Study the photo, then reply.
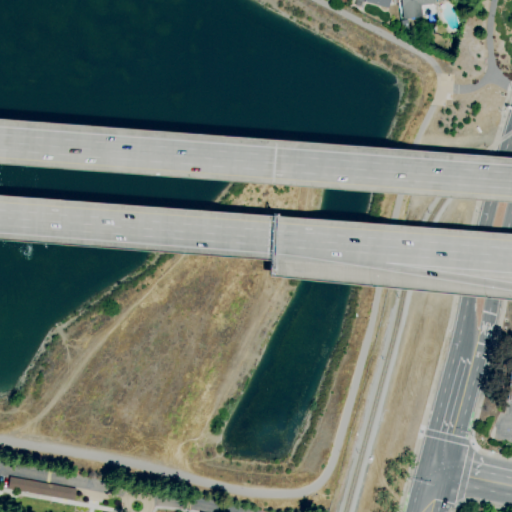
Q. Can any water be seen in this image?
Yes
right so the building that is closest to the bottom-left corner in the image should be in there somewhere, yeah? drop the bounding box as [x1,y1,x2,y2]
[8,476,76,500]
